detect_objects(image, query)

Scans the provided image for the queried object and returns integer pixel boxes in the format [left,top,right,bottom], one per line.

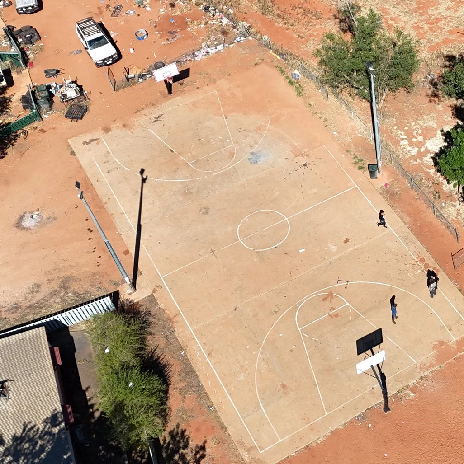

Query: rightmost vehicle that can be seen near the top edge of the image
[76,17,118,68]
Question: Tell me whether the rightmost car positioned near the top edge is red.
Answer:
No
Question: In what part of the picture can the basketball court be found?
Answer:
center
